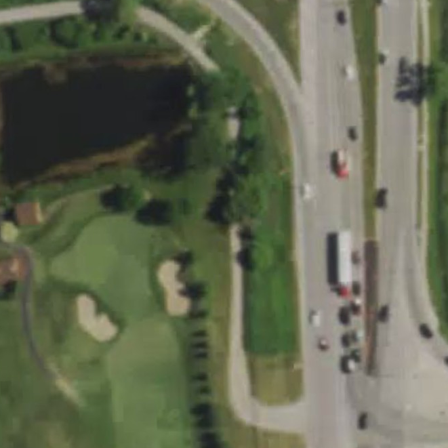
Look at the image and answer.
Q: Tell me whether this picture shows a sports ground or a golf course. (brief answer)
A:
golf course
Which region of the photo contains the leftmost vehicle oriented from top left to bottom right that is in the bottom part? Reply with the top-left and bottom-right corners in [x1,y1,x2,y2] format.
[419,322,433,339]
